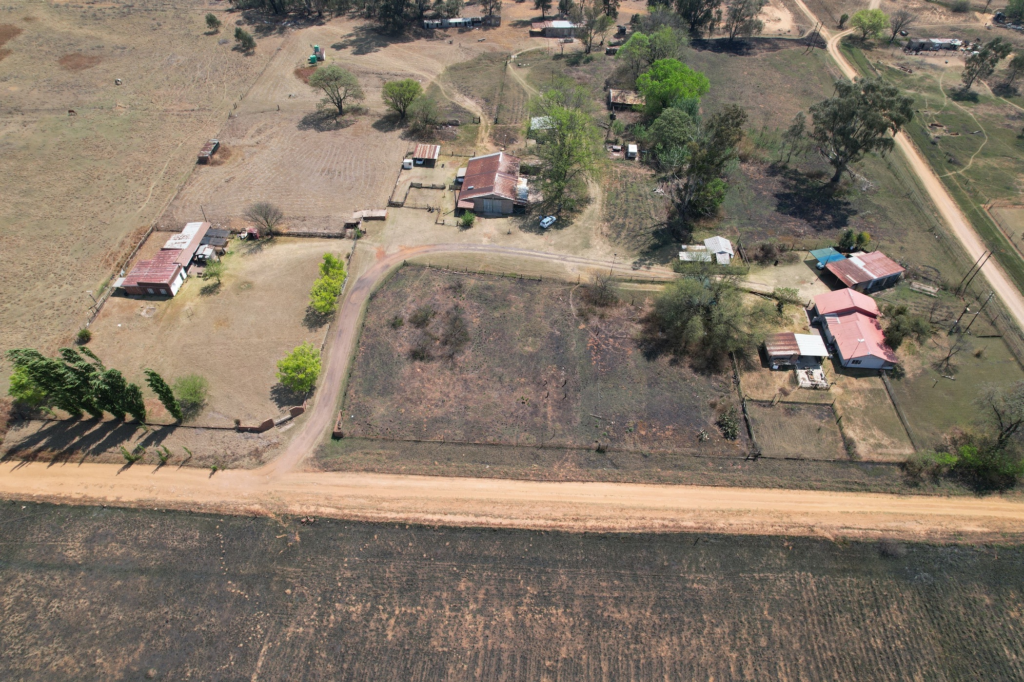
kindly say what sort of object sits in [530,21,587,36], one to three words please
house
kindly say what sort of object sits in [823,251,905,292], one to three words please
building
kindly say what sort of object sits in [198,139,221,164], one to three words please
shed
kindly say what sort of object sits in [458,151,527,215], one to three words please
barn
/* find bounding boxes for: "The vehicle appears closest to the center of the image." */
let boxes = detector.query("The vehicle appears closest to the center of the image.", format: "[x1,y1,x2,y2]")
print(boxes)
[539,216,557,229]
